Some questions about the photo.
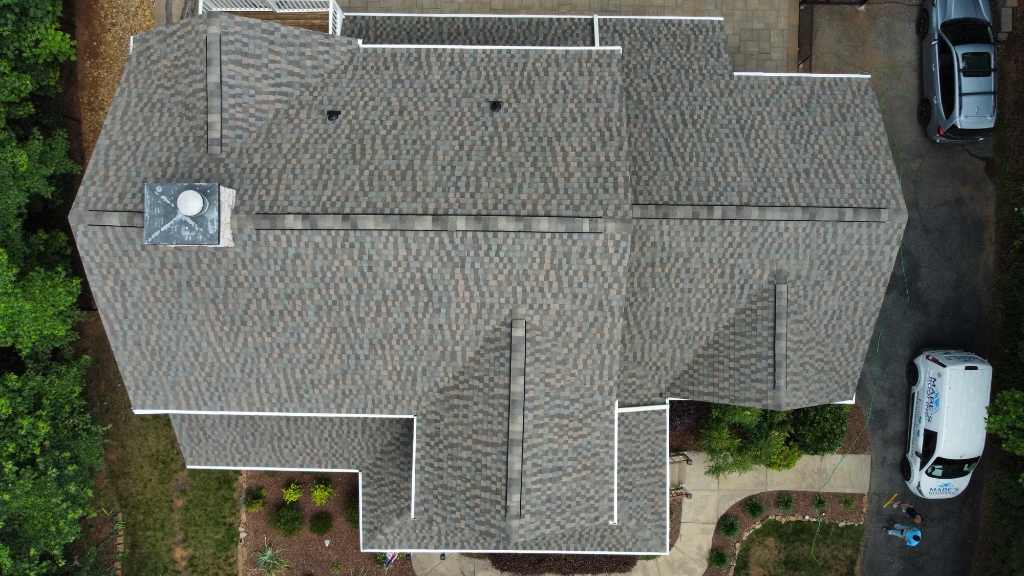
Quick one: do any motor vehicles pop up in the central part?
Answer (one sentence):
No, no motor vehicle can be made out in the central part.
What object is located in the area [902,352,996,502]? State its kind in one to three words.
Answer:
van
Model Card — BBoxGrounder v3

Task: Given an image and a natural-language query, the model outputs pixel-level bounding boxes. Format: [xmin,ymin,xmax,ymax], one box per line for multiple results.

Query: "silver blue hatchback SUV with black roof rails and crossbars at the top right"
[916,0,1001,145]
